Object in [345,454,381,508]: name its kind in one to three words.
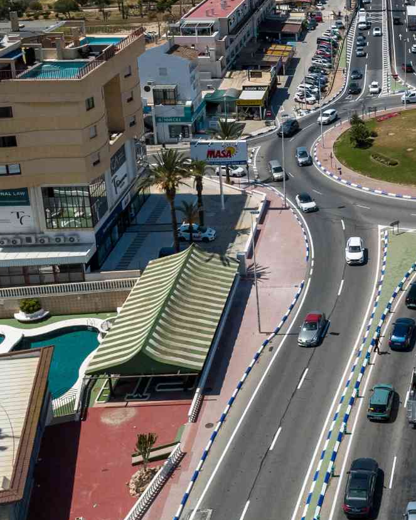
car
